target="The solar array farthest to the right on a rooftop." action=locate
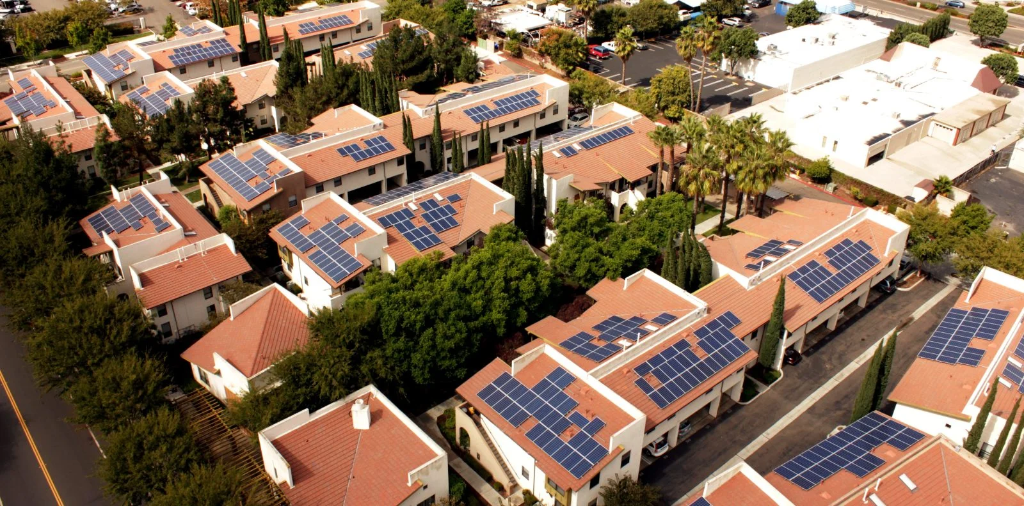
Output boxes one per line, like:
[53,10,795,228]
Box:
[919,307,1021,366]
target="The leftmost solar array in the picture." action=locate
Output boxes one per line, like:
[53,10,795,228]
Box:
[0,81,72,120]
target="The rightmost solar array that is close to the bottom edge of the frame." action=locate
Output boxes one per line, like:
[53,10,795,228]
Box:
[774,414,925,489]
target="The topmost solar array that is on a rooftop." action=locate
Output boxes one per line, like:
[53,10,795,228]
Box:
[297,12,353,33]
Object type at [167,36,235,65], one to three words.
solar array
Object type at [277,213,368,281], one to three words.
solar array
